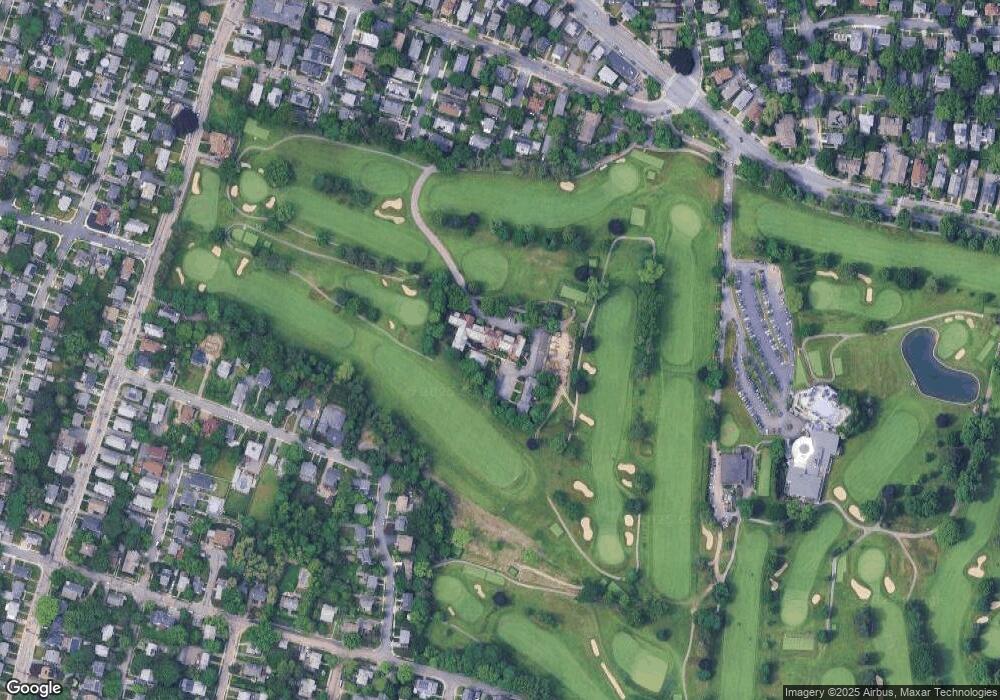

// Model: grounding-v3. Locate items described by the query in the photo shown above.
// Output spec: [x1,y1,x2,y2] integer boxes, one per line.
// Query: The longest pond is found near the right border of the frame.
[902,327,979,404]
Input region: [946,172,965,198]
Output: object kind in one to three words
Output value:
house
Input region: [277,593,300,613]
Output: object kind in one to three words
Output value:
house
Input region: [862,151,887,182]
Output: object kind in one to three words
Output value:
building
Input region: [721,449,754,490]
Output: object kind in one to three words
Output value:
shed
